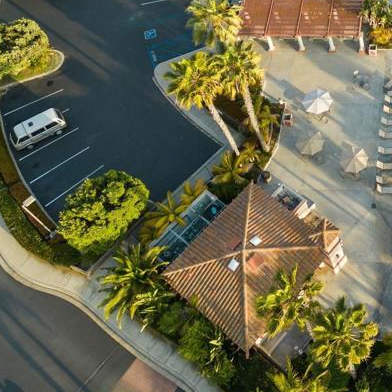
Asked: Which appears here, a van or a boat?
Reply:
van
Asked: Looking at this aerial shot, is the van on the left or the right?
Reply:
left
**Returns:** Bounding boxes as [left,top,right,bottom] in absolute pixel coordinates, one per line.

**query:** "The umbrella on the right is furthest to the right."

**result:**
[339,147,369,174]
